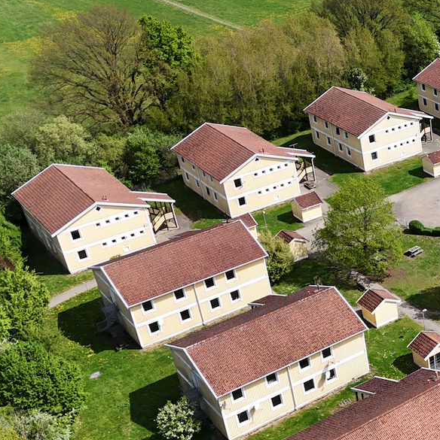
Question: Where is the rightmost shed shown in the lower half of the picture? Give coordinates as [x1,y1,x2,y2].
[407,326,440,368]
